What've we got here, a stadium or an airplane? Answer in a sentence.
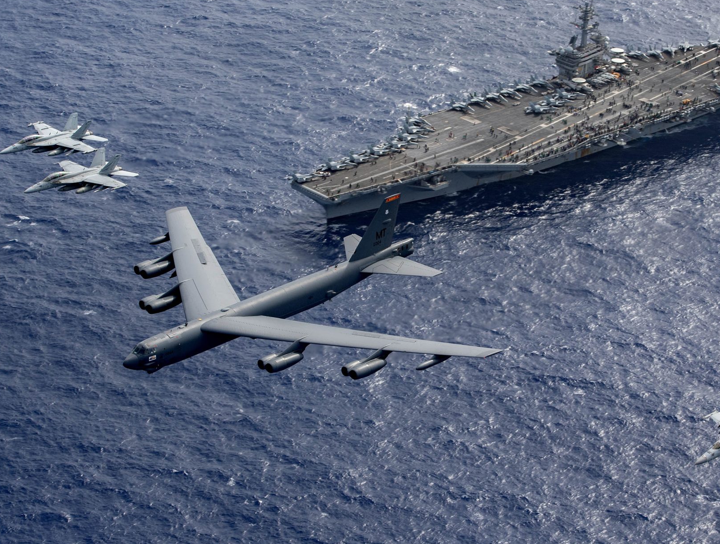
I can see an airplane in this picture.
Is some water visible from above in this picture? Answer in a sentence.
Yes, water can be seen from above here.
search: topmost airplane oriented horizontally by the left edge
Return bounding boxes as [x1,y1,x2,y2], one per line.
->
[0,112,108,155]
